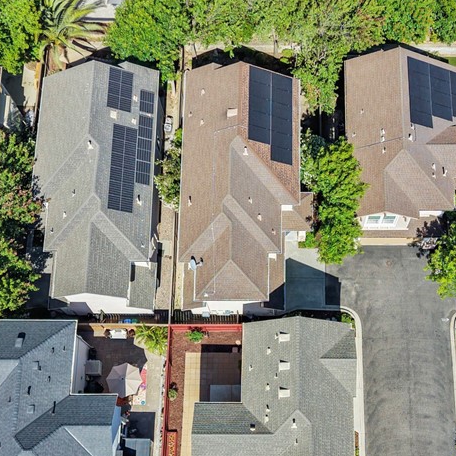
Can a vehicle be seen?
No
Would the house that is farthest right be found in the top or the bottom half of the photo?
top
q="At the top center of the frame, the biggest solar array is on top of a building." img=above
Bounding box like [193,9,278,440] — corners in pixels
[249,65,293,164]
